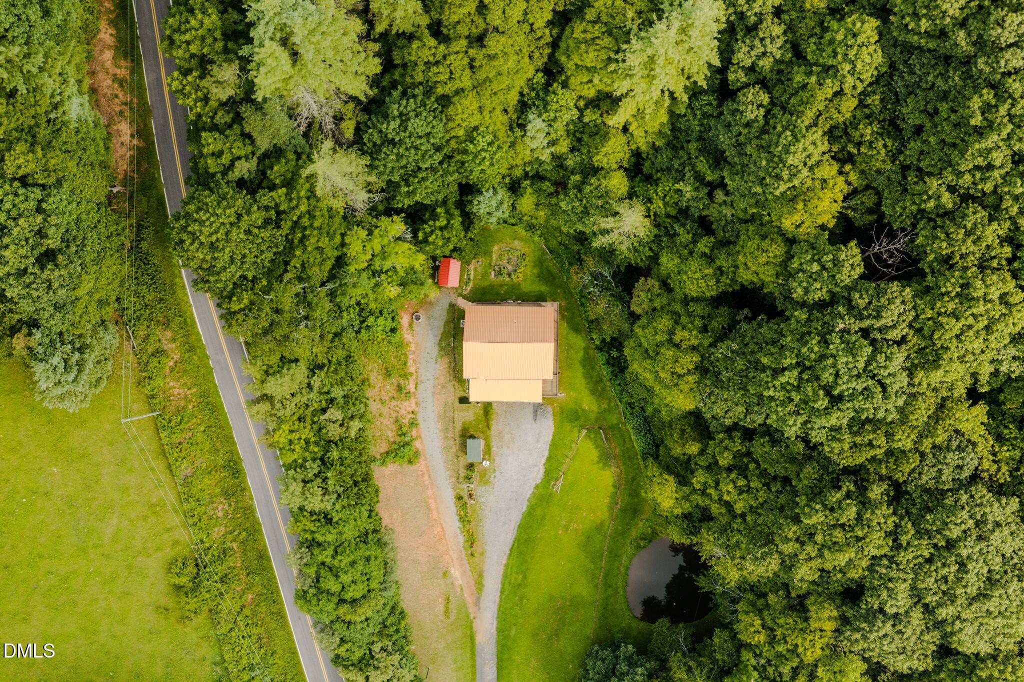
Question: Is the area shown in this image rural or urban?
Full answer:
It looks rural.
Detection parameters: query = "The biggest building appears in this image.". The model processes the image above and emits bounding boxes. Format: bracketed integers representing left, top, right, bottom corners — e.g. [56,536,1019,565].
[463,304,554,402]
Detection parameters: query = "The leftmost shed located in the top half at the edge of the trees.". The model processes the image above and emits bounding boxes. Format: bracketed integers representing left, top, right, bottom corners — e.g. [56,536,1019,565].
[437,257,461,288]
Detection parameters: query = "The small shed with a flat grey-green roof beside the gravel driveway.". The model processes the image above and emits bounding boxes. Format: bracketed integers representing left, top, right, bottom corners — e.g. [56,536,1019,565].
[468,439,486,462]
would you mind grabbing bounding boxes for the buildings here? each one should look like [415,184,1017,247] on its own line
[463,304,554,402]
[468,439,486,462]
[437,257,461,288]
